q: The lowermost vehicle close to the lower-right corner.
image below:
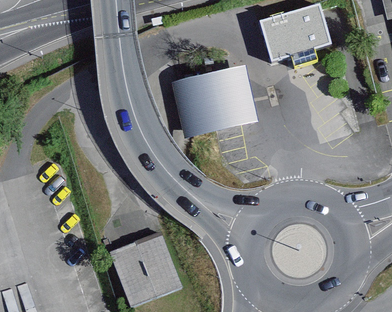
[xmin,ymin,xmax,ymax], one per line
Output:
[320,278,342,291]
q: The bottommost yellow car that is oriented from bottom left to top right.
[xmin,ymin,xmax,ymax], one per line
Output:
[60,214,80,234]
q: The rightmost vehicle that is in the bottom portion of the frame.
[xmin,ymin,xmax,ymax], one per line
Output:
[346,192,369,204]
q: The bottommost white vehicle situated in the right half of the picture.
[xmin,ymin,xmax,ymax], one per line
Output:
[228,245,244,267]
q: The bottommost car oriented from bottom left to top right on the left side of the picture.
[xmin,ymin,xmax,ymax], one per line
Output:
[66,246,88,267]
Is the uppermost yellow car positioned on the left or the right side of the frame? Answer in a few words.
left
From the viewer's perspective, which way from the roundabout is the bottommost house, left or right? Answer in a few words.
on its left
